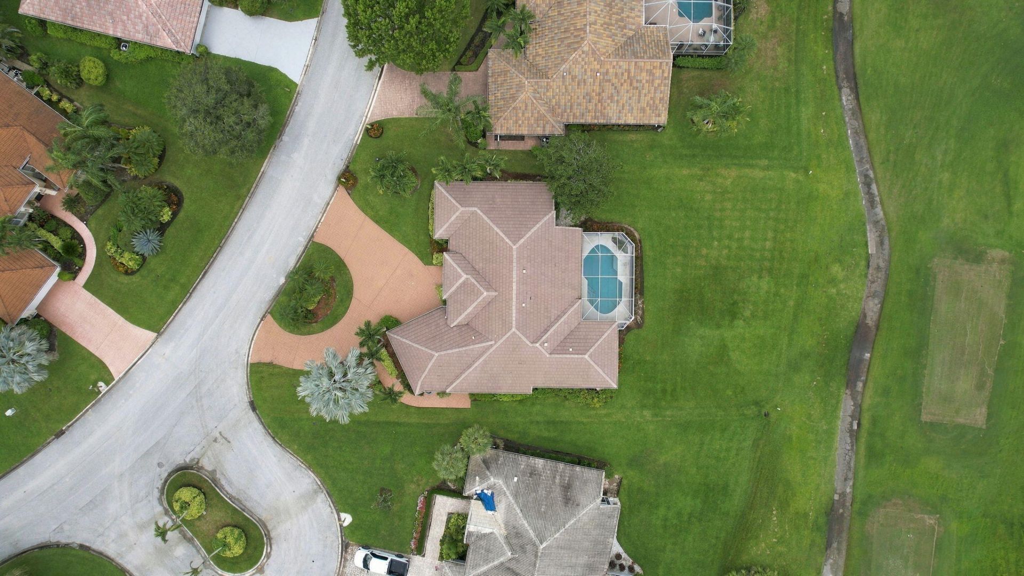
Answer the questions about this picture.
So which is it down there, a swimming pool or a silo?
swimming pool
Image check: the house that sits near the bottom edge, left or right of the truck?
to the right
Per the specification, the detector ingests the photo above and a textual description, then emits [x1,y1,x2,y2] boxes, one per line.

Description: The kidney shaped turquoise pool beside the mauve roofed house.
[582,242,625,317]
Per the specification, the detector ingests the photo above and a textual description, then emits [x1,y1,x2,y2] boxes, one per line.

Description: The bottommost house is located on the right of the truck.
[439,447,621,576]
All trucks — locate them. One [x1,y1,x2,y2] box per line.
[352,545,411,576]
